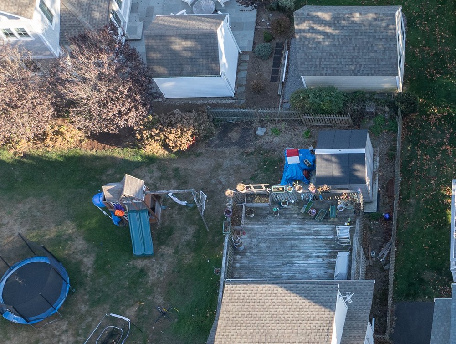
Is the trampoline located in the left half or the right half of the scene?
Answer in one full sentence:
The trampoline is on the left side of the image.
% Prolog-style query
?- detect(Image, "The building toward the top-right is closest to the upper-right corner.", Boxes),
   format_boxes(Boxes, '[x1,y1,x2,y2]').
[295,0,404,89]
